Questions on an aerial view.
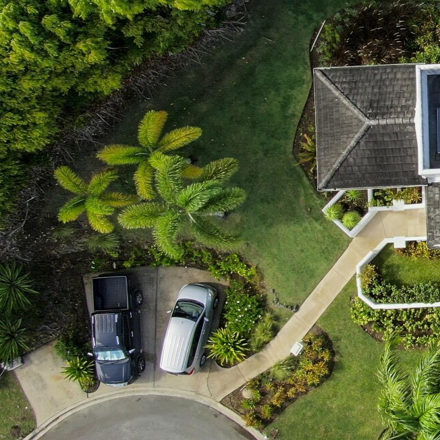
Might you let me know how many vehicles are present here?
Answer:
two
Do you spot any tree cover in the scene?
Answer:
Yes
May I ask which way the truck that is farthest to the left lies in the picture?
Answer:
up and down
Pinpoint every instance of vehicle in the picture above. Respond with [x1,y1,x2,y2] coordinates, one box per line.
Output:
[89,261,153,384]
[164,279,228,380]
